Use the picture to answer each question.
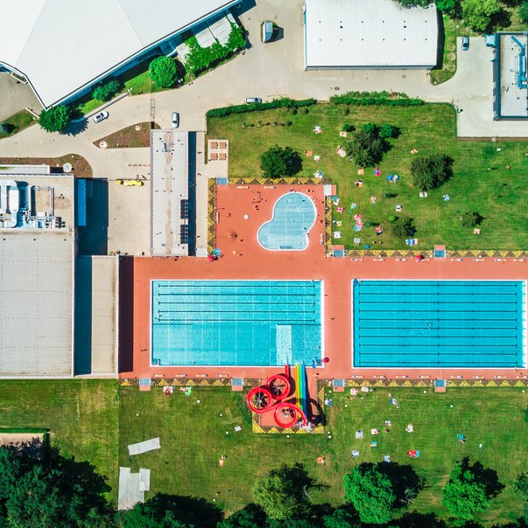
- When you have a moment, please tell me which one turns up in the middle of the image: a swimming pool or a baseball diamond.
swimming pool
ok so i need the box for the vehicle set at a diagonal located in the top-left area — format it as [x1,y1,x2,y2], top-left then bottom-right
[92,111,109,123]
